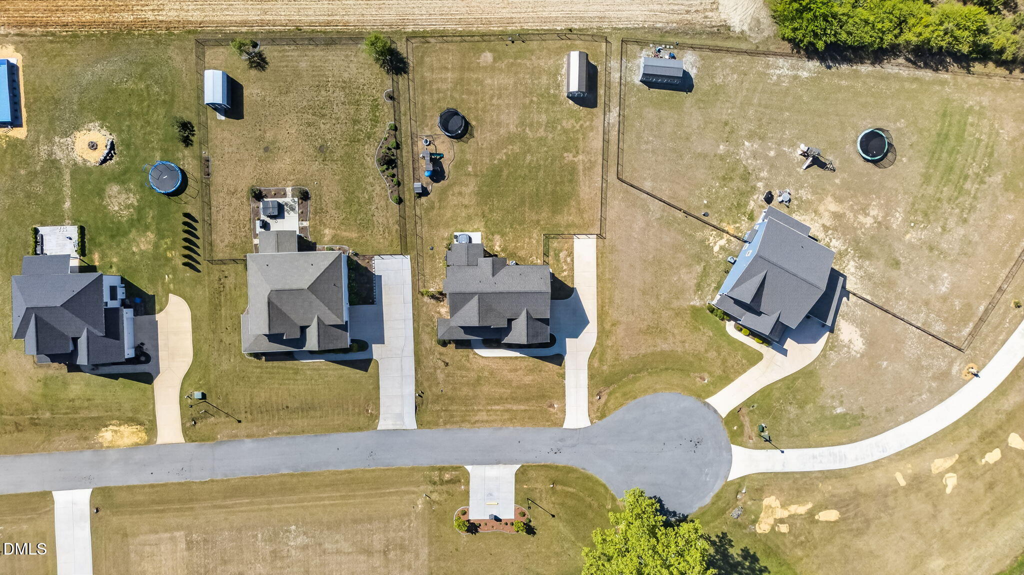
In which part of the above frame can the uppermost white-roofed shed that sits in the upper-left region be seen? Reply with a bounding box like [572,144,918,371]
[205,69,232,120]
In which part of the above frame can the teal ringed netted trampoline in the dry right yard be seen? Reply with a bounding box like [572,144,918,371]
[855,126,897,163]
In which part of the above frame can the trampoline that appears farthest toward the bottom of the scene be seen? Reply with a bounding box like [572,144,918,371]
[141,158,185,195]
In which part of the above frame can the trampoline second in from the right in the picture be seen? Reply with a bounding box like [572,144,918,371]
[438,106,468,138]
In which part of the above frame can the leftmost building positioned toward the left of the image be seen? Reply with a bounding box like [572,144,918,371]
[12,254,134,366]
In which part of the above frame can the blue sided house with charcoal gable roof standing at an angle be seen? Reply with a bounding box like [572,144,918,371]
[712,206,844,343]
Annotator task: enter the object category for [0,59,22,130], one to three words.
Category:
swimming pool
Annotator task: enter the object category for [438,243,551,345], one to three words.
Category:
house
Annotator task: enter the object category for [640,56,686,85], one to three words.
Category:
shed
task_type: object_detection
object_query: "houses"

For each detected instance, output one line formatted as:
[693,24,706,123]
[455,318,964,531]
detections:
[712,206,844,343]
[241,230,352,353]
[438,243,551,345]
[12,254,134,366]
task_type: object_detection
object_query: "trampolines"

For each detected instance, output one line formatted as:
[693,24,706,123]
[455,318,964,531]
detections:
[855,126,897,163]
[438,106,468,138]
[141,158,185,195]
